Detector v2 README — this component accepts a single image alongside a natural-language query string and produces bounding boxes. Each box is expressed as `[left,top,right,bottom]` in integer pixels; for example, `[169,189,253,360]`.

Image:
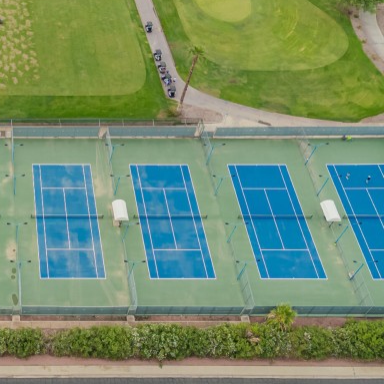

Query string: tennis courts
[130,165,216,279]
[30,165,106,279]
[327,165,384,278]
[229,165,327,279]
